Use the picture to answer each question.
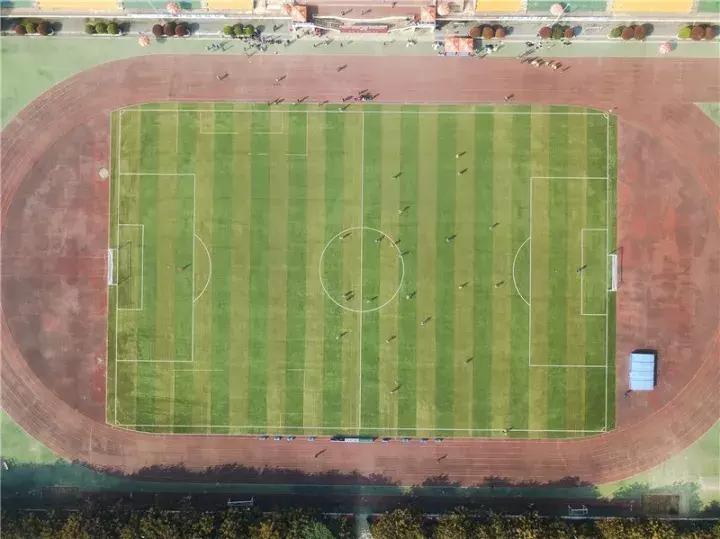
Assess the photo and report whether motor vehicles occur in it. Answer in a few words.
No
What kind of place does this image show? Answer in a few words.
sports ground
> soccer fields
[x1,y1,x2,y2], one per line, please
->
[105,103,619,439]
